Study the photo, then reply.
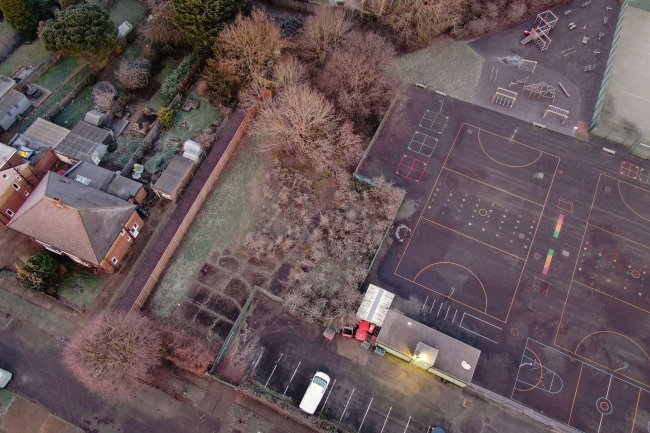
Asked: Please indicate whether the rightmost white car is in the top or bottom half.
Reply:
bottom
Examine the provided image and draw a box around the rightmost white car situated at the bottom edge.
[300,371,329,413]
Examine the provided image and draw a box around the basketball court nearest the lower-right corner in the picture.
[511,338,650,433]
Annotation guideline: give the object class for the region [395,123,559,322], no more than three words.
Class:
sports court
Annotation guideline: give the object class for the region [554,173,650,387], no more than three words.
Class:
sports court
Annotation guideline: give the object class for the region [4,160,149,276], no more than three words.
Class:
house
